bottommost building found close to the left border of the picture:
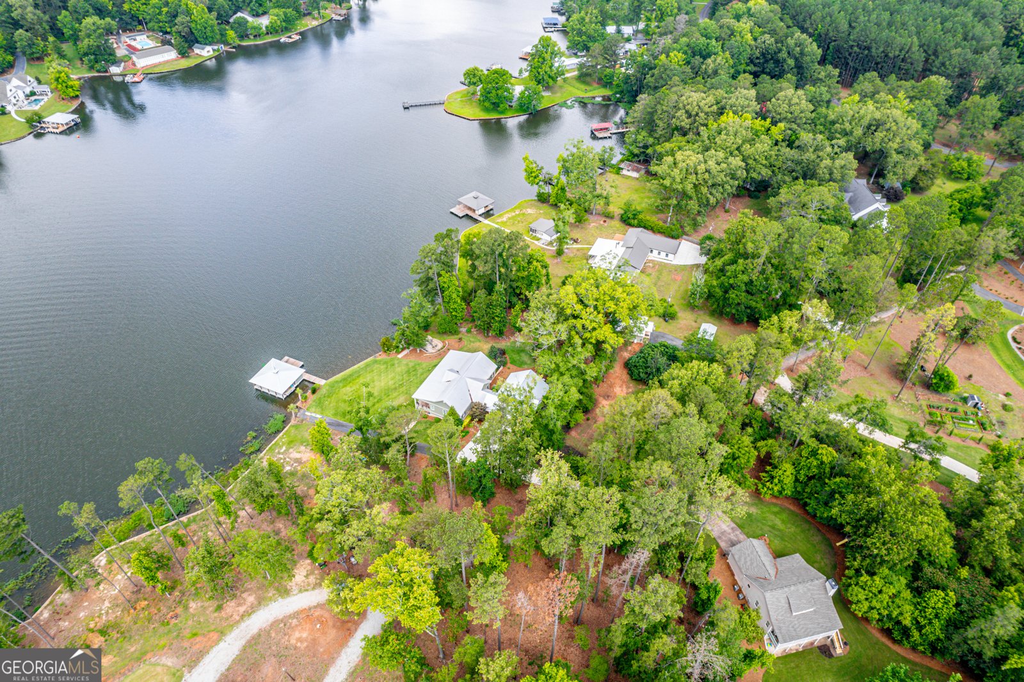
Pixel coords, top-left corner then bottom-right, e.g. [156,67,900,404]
[35,112,81,135]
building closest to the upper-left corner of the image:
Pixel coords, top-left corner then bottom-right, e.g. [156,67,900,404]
[0,72,58,109]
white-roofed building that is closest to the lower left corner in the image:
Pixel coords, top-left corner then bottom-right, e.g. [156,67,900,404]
[249,356,327,403]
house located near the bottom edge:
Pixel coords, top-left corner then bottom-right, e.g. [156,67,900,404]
[729,538,845,658]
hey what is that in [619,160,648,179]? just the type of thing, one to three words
shed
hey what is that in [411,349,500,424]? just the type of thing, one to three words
building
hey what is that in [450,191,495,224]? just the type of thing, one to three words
building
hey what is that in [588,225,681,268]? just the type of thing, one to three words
house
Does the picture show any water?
Yes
